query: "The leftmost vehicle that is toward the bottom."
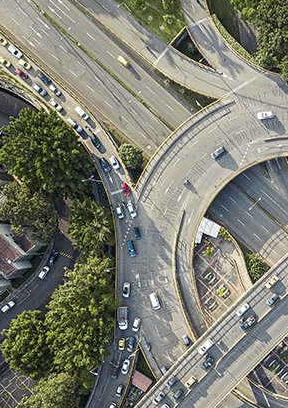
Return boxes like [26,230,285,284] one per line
[1,300,16,313]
